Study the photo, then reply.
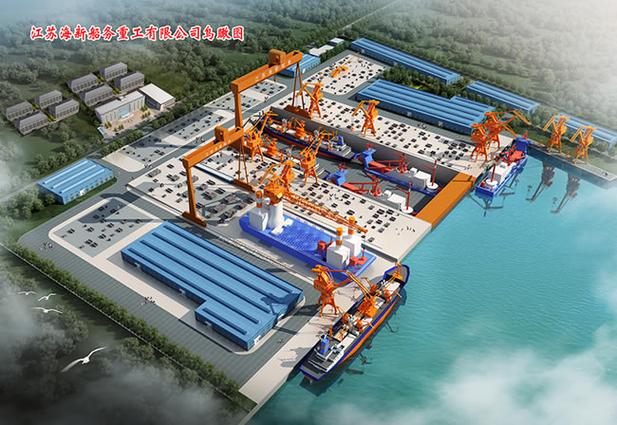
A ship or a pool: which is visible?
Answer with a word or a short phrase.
ship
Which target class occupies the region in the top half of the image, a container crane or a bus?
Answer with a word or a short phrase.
container crane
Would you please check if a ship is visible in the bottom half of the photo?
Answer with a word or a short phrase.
Yes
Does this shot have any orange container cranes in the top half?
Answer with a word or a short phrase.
Yes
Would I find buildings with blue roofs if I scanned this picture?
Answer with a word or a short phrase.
Yes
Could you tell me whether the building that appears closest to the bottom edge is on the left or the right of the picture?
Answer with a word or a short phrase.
left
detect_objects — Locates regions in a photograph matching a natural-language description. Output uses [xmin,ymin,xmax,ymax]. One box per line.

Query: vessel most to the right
[477,128,542,197]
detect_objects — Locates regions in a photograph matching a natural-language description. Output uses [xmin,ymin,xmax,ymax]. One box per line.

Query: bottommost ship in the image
[304,265,415,380]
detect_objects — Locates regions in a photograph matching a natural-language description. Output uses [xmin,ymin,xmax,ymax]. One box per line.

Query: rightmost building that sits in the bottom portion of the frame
[119,220,305,350]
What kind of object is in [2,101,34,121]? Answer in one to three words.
building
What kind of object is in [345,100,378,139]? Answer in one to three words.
crane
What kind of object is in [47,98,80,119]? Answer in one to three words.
building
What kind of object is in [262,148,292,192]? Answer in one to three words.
crane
